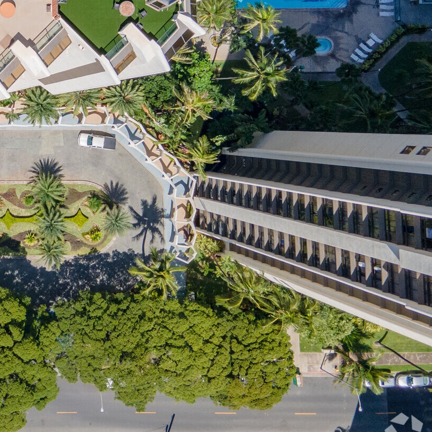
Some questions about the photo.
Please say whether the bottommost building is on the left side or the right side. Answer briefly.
right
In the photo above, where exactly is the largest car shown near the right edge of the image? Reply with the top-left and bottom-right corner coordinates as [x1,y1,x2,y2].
[396,374,430,390]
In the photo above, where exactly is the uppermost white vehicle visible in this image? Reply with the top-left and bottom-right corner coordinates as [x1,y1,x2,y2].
[77,133,117,150]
